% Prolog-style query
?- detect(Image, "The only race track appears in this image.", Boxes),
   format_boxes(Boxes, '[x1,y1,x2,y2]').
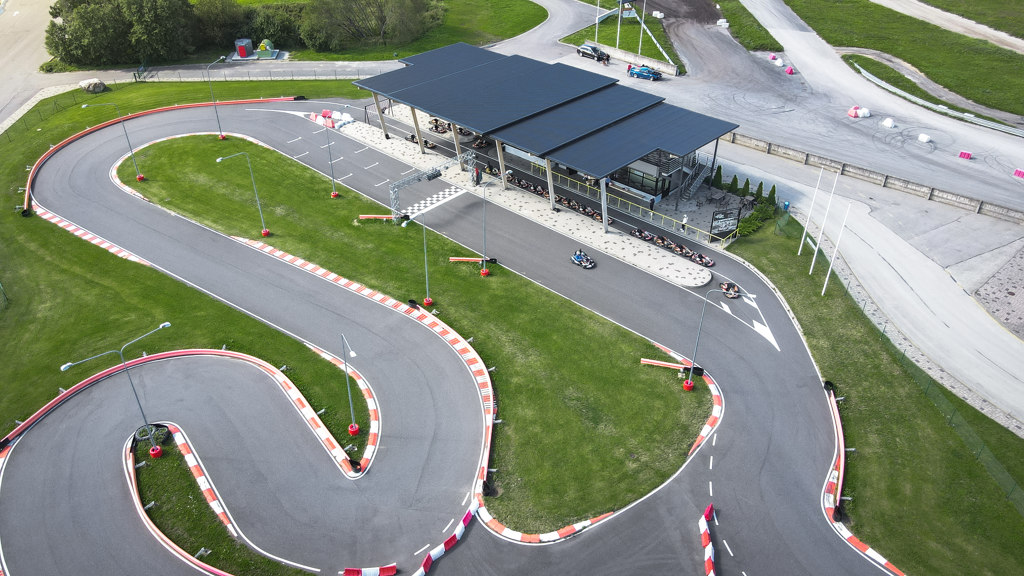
[0,95,900,576]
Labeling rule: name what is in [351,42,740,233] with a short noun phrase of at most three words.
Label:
building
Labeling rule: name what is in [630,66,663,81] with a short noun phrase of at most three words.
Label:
car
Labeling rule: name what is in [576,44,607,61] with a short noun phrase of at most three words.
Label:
car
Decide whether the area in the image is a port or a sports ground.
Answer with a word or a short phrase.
sports ground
